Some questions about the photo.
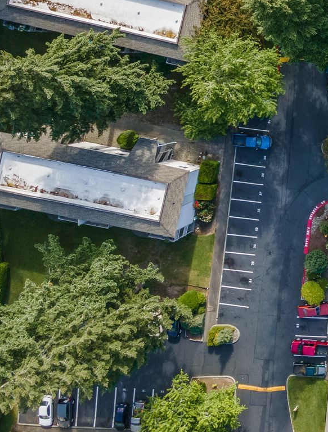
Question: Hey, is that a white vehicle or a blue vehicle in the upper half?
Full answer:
There is a blue vehicle in the upper half.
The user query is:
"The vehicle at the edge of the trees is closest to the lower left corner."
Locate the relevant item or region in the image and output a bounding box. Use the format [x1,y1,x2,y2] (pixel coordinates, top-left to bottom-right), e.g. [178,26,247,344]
[37,394,56,427]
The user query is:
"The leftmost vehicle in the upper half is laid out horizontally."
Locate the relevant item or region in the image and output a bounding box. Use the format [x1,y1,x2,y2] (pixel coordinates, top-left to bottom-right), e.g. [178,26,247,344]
[232,133,272,150]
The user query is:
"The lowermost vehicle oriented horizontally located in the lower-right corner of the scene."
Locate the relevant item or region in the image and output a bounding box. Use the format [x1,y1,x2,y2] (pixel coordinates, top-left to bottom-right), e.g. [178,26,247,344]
[292,360,328,377]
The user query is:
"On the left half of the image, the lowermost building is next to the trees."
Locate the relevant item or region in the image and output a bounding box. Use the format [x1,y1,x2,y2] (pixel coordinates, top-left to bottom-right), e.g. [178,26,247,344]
[0,120,199,247]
